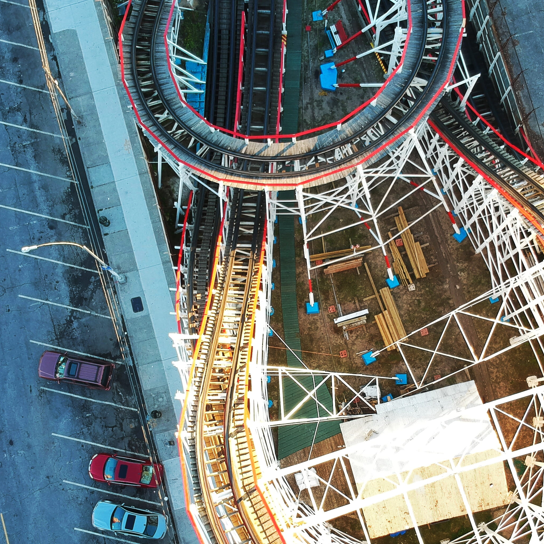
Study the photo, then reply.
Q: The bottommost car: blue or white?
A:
blue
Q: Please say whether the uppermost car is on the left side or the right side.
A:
left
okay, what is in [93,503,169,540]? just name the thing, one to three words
car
